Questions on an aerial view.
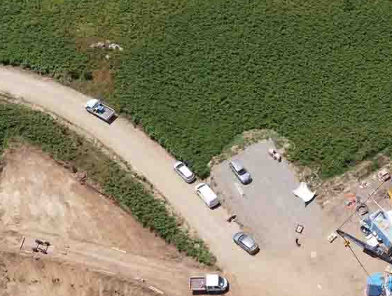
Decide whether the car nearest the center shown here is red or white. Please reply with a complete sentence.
In this view, the car nearest the center is white.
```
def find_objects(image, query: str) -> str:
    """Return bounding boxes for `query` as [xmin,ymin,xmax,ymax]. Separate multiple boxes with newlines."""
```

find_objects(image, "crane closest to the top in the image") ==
[341,180,392,280]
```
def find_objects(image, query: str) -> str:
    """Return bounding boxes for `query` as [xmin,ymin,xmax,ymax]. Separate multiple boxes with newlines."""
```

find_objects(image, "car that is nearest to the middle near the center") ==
[172,158,196,181]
